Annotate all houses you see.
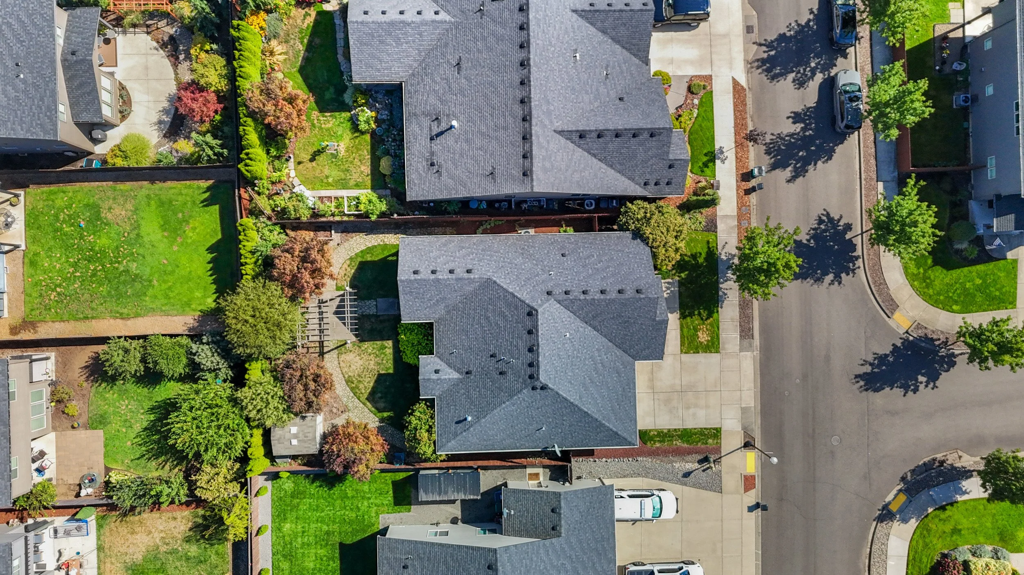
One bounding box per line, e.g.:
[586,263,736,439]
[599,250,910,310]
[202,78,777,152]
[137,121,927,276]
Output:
[0,0,119,153]
[376,477,618,575]
[0,353,52,508]
[398,231,668,455]
[347,0,690,201]
[0,518,57,575]
[968,0,1024,235]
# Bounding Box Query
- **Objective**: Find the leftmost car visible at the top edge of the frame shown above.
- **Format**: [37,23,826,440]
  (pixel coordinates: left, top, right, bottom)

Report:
[653,0,710,25]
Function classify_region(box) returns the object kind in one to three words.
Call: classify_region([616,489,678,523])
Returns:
car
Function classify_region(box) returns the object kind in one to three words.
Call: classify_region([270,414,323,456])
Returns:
shed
